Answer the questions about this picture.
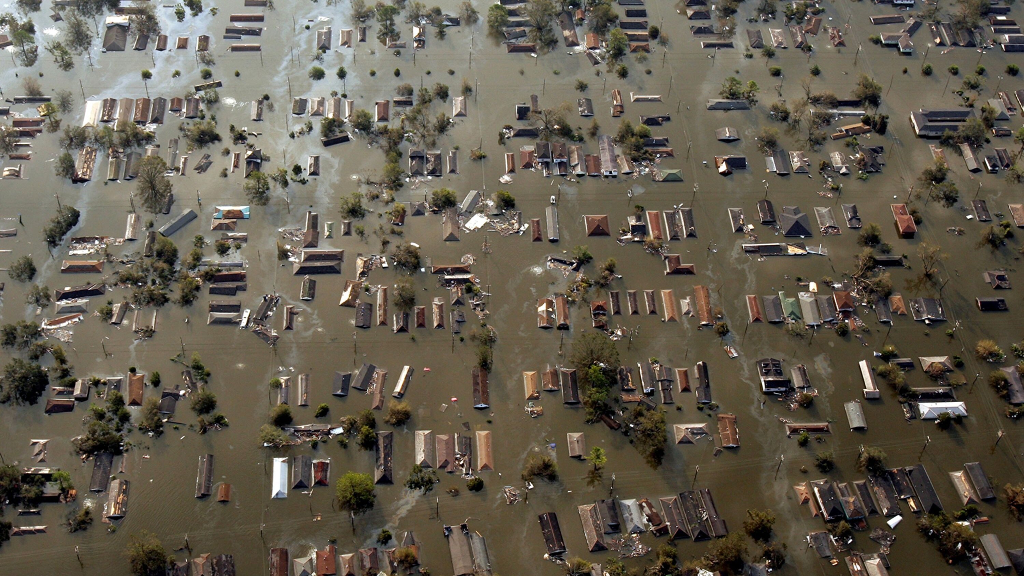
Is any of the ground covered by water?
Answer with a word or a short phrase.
Yes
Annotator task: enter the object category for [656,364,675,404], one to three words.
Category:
shed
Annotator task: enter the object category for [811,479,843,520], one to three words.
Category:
house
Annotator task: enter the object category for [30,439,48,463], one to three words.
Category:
shed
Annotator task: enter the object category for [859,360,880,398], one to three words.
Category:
house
